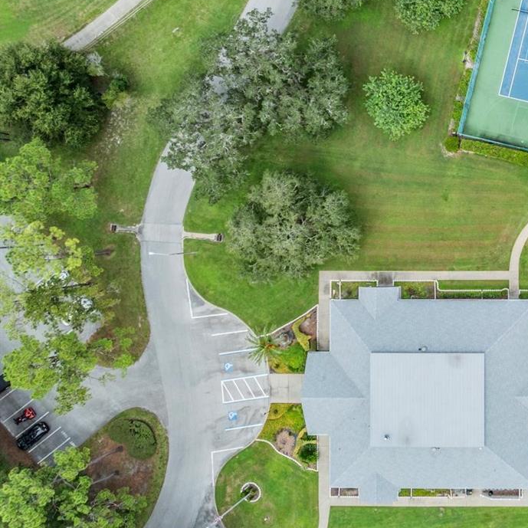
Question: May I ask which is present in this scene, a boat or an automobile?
automobile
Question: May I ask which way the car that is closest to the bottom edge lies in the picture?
diagonally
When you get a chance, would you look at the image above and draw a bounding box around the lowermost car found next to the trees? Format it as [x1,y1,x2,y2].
[11,423,47,454]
